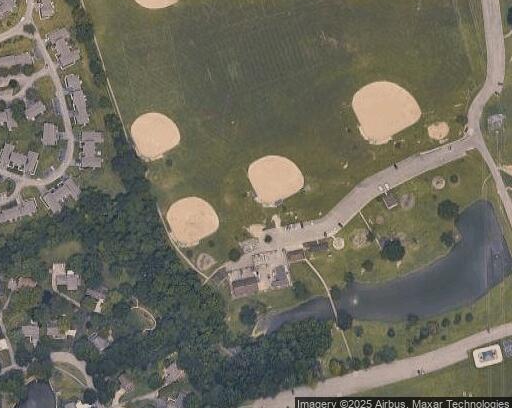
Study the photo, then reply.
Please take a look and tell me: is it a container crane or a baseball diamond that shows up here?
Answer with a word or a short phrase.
baseball diamond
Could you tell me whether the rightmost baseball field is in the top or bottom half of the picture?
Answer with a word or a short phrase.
top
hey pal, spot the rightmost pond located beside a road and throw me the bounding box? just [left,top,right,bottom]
[254,200,512,335]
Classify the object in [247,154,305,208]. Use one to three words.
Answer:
baseball field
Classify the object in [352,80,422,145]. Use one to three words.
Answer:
baseball field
